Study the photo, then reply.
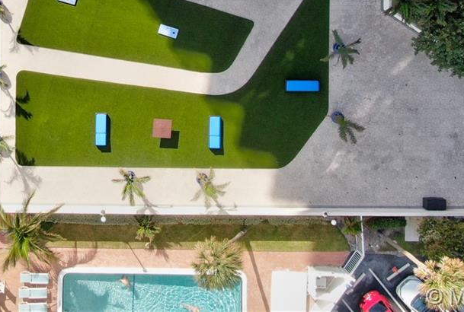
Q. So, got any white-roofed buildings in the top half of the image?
No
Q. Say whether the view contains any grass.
Yes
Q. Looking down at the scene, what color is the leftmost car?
red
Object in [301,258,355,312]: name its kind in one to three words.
building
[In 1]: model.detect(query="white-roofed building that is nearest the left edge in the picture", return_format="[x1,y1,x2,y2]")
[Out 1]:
[268,264,308,312]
